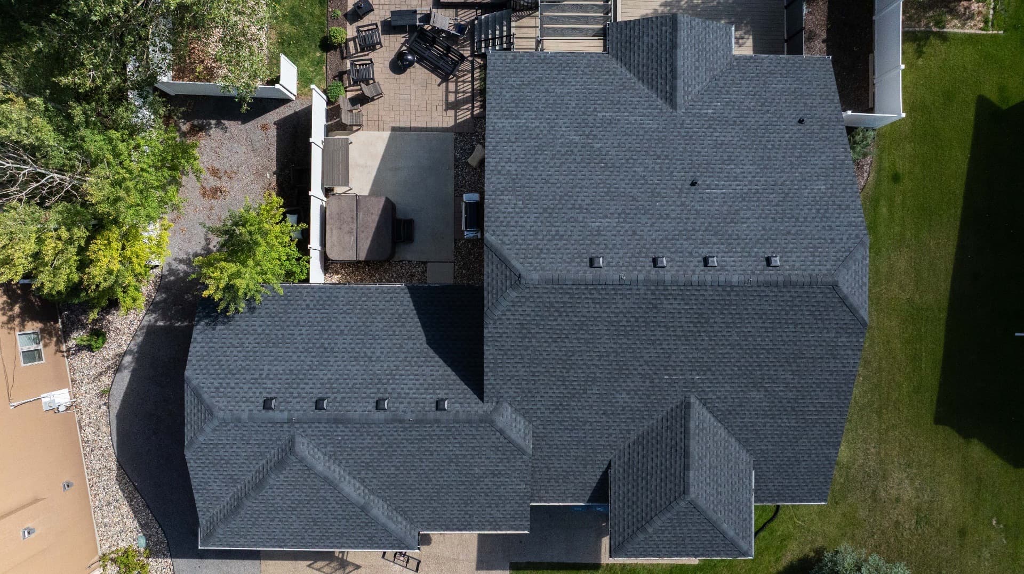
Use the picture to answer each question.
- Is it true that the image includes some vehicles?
No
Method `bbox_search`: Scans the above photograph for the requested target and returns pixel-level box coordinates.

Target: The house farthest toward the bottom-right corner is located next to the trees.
[180,13,872,562]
